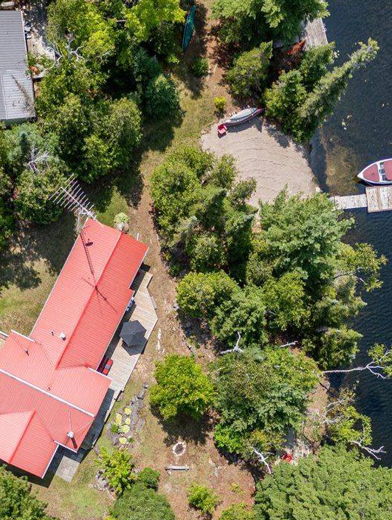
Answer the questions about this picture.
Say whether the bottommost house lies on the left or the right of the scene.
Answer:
left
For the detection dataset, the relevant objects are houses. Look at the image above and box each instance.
[0,10,36,123]
[0,218,148,478]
